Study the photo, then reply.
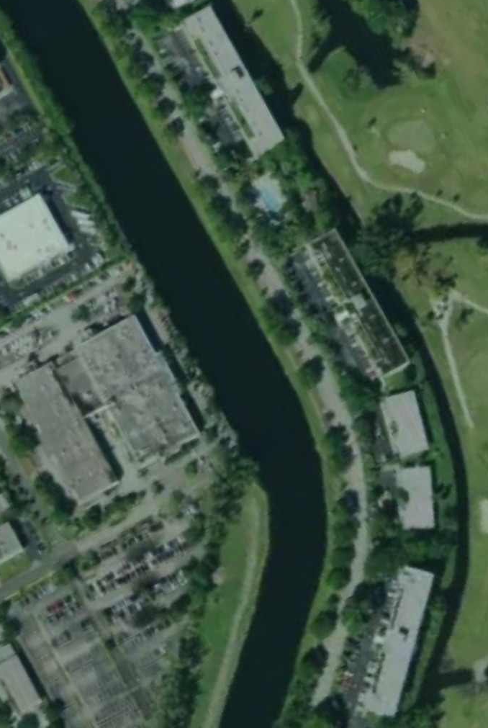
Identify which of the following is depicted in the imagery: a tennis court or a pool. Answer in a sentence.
The one in the frame is a pool.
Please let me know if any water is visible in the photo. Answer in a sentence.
Yes, water can be seen from above here.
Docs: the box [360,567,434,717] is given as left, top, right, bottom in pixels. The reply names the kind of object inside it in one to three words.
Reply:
building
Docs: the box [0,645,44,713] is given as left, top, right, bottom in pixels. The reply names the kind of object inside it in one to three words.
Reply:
building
